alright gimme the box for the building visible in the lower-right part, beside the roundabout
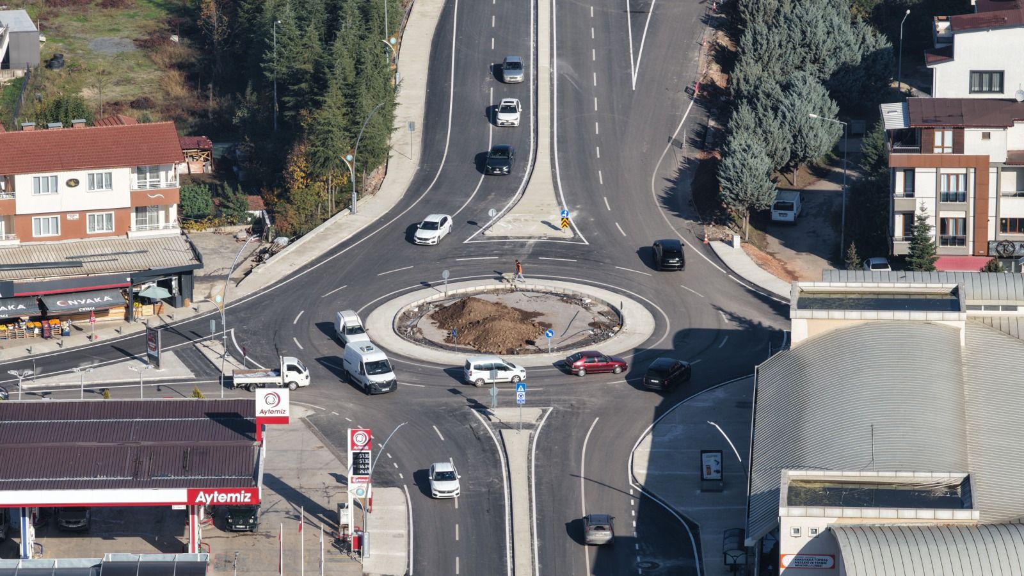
[744,269,1024,576]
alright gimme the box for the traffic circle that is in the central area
[367,276,655,367]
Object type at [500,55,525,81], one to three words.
car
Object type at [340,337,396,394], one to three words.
van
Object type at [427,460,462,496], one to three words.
car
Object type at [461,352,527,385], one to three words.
van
